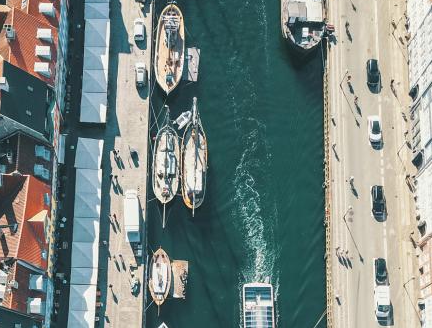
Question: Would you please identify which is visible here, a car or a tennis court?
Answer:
car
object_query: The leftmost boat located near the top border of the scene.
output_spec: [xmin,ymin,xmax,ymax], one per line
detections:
[155,0,185,99]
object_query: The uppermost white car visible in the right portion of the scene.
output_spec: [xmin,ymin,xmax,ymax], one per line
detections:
[366,116,383,144]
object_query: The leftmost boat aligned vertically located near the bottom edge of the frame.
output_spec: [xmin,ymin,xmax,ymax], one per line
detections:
[148,243,171,319]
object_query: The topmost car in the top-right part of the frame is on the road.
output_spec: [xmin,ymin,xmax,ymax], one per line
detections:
[366,62,382,92]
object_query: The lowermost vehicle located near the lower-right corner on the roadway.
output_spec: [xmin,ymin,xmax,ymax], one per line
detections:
[373,284,392,321]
